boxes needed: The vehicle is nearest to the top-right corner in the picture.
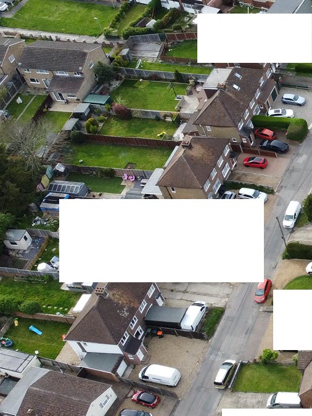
[282,94,306,106]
